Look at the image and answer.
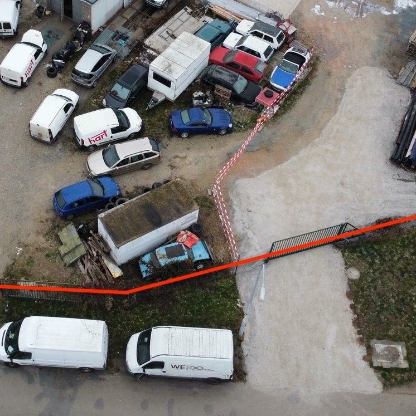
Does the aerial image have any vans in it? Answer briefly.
Yes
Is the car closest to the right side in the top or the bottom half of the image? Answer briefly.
top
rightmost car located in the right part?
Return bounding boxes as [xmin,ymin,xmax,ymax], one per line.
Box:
[271,46,311,94]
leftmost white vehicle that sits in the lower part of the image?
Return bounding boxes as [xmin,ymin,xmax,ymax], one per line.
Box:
[0,311,111,375]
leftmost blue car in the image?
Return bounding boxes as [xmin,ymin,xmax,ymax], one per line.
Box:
[53,175,121,219]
